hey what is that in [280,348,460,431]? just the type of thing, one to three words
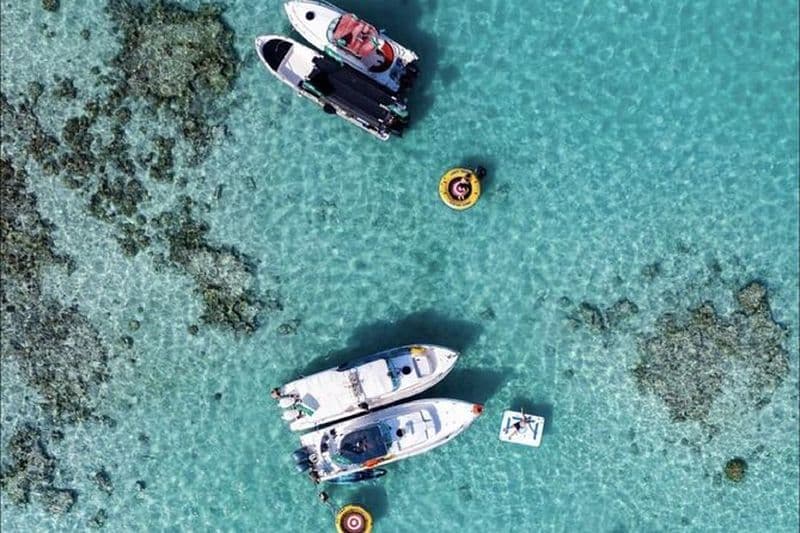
boat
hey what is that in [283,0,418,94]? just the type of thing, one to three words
boat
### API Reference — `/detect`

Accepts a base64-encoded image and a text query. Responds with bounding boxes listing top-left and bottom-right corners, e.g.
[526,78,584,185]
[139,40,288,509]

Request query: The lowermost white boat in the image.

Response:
[291,400,483,482]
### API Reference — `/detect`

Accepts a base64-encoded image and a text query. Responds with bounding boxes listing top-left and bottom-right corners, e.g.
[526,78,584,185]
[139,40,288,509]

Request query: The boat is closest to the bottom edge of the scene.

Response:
[329,467,384,484]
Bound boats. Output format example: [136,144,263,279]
[283,0,418,94]
[280,348,460,431]
[291,400,483,482]
[255,36,409,139]
[329,467,384,484]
